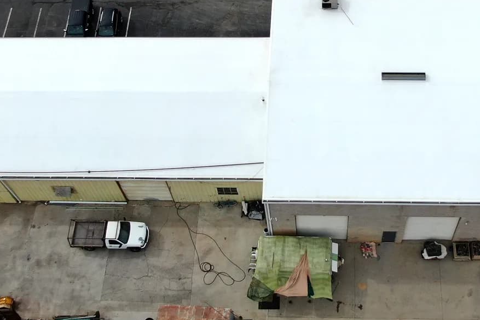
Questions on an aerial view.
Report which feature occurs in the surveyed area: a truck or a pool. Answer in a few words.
truck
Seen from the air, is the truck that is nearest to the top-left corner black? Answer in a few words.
Yes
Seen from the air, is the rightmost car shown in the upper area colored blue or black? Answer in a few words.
black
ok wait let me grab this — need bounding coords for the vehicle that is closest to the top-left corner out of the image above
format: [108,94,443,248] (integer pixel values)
[61,0,94,37]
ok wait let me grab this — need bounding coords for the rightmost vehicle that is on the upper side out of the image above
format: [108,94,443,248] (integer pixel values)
[94,8,124,37]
